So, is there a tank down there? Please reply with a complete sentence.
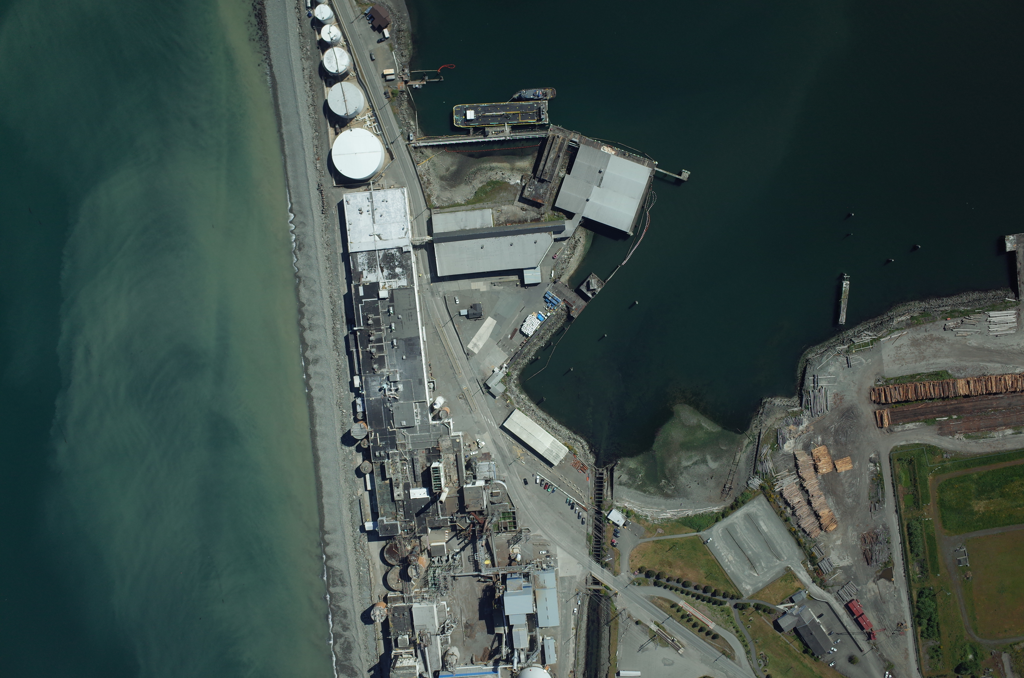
Yes, there's a tank down there.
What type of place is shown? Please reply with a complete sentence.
What you see here is a port.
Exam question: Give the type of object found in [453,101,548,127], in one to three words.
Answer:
ship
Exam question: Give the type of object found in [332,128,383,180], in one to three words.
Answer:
storage tank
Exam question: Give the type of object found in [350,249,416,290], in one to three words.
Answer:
building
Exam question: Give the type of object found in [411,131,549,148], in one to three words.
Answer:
pier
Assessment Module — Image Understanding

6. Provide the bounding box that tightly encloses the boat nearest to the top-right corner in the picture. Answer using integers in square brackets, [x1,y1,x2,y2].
[513,87,556,101]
